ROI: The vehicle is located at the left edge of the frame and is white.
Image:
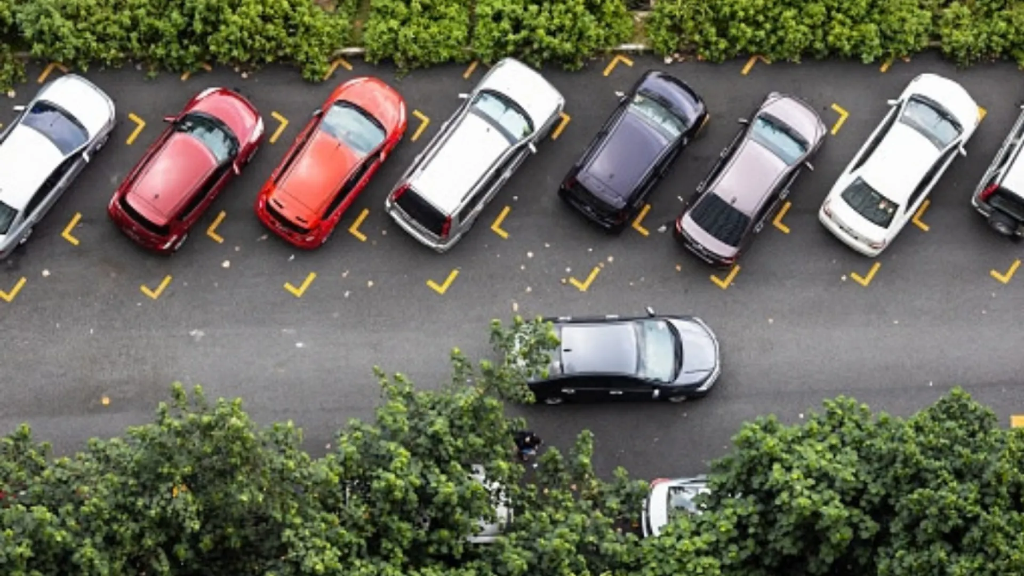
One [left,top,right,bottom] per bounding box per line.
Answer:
[0,71,117,268]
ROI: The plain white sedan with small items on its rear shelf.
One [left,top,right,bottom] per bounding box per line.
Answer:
[819,68,978,261]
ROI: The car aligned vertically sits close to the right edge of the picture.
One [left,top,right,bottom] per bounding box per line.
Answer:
[971,114,1024,238]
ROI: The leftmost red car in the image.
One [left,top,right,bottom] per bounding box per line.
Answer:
[111,84,262,258]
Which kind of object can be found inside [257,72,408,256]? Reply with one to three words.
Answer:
car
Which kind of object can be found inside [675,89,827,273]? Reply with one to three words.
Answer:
car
